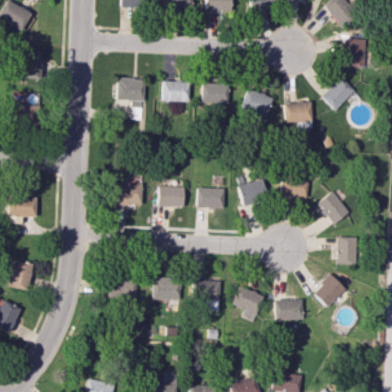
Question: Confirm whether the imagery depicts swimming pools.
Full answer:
Yes, there's a swimming pool here.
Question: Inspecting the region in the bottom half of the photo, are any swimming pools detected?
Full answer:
Yes, the scene does show a swimming pool in the bottom half of the photo.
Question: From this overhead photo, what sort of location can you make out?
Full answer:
The area seen from above is a residential area.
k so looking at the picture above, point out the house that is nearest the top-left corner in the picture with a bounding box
[0,0,32,30]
